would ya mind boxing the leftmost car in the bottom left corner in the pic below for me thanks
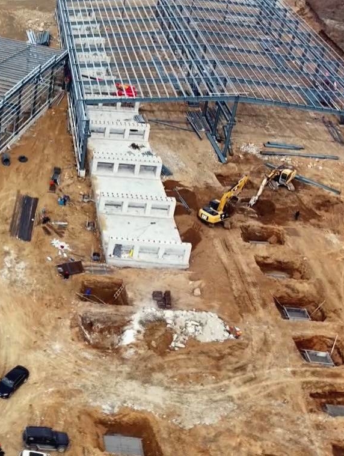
[0,364,30,400]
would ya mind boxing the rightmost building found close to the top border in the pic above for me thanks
[54,0,344,171]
